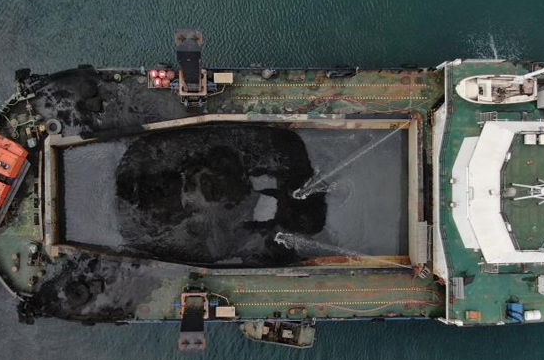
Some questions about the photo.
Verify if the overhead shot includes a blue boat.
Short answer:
No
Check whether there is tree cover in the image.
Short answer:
No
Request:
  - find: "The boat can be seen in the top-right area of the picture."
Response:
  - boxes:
[456,75,538,104]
